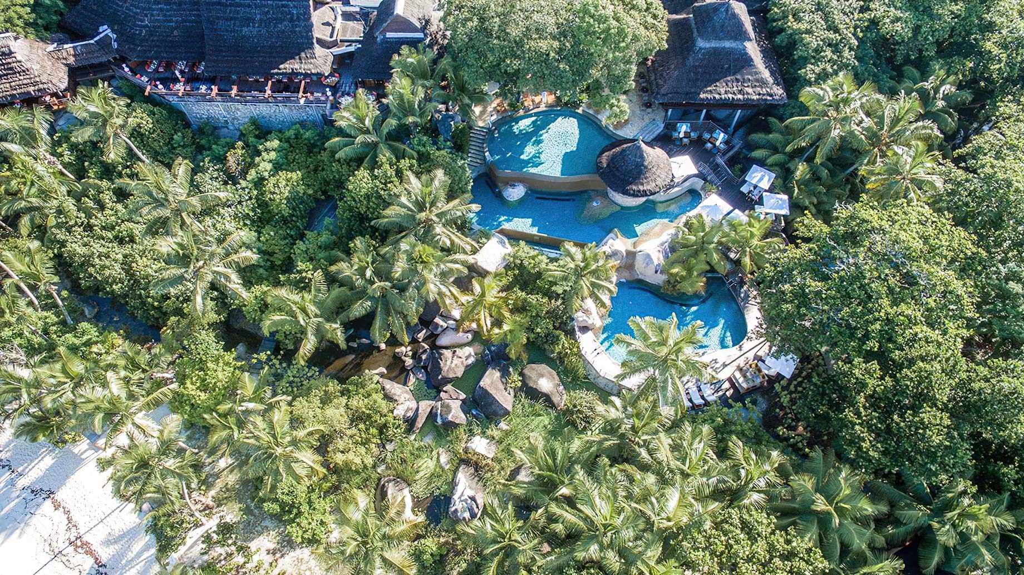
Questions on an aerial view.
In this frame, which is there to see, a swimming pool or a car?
swimming pool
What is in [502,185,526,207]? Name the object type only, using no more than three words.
fountain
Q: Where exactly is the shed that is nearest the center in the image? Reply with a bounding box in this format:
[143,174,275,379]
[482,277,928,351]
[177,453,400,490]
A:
[596,136,674,214]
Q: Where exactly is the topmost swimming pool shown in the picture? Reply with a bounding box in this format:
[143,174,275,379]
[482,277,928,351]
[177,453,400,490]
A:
[483,103,622,194]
